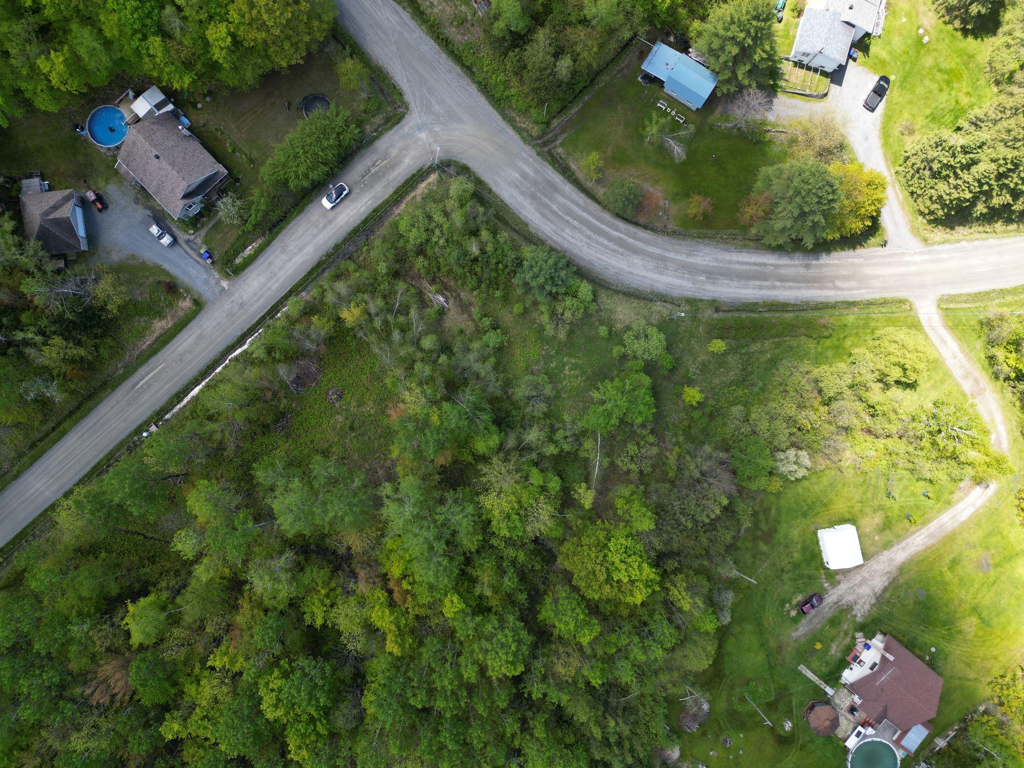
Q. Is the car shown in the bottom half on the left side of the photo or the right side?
right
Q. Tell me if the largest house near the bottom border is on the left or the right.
right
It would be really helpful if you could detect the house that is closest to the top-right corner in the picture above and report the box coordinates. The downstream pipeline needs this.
[785,0,881,72]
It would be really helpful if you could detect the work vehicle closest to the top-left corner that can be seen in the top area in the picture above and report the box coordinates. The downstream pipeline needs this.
[82,189,107,211]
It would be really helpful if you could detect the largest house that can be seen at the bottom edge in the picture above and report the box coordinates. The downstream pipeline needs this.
[839,630,943,731]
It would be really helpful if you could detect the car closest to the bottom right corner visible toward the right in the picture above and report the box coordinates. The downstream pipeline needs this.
[796,591,824,613]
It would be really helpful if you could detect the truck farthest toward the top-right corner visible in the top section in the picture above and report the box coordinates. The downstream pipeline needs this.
[860,73,891,116]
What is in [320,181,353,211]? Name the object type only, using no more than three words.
car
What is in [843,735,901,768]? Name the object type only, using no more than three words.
swimming pool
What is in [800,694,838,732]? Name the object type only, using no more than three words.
gazebo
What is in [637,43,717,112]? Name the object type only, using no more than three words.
shed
